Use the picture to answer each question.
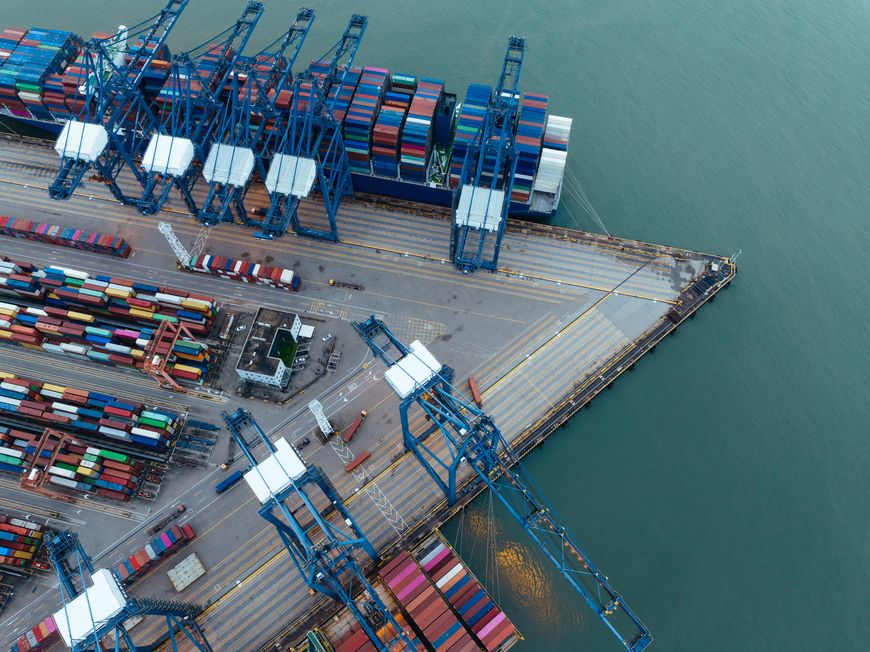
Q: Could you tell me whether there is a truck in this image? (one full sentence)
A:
Yes, there is a truck in the image.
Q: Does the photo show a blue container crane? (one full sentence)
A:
Yes, there's a blue container crane down there.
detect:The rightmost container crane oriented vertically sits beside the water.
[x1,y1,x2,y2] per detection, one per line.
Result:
[443,36,527,296]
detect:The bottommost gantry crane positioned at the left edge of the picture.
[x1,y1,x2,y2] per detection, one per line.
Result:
[29,500,206,652]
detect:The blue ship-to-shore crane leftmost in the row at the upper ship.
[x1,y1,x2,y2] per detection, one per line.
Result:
[28,0,188,219]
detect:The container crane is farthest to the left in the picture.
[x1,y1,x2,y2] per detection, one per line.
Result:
[15,426,100,502]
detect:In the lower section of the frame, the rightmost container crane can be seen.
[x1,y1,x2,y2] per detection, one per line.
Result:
[342,297,655,652]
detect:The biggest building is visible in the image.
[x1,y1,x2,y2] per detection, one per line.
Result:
[236,307,300,392]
